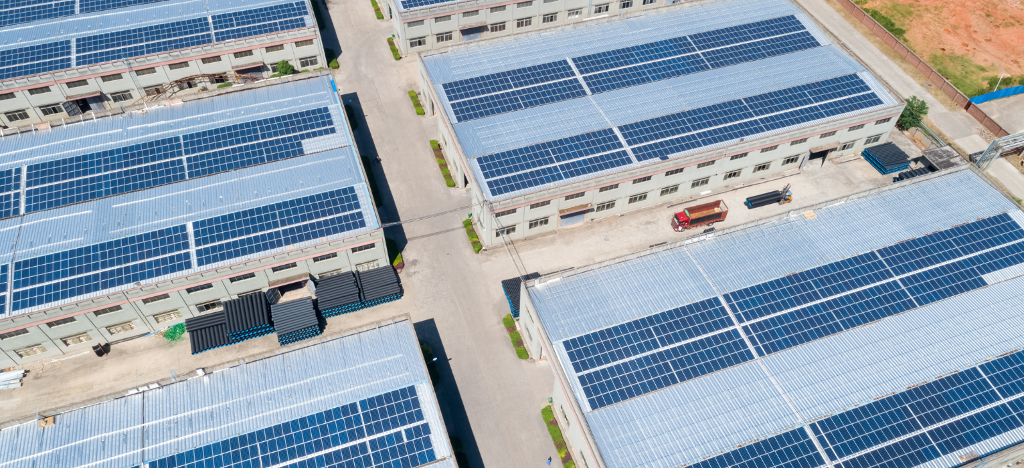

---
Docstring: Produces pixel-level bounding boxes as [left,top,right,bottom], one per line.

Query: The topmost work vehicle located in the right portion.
[778,185,794,205]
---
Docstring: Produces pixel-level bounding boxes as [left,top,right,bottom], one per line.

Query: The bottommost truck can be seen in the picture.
[670,201,729,230]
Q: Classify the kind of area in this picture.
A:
industrial area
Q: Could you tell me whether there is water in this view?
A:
No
